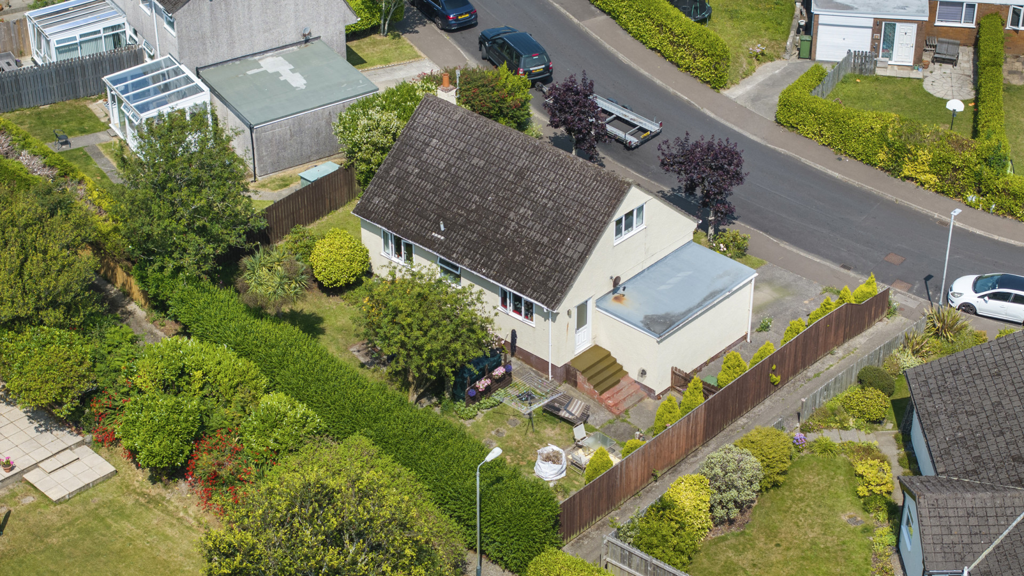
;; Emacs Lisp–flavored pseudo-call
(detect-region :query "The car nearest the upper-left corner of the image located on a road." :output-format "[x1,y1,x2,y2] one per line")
[416,0,475,27]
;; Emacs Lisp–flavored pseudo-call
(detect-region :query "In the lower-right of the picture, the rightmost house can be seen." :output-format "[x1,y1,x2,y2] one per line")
[899,327,1024,576]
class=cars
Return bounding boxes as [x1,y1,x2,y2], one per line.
[481,32,552,85]
[951,276,1024,328]
[416,0,475,27]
